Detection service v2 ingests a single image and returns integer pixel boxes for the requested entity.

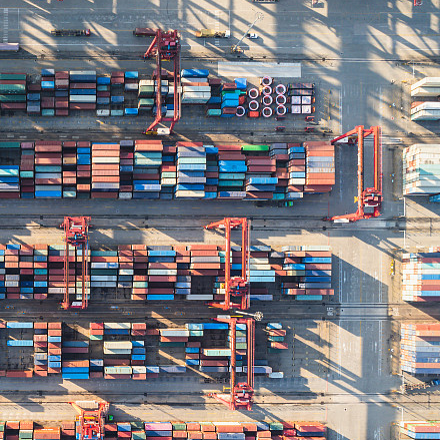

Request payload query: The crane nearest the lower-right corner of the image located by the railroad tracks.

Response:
[207,317,256,411]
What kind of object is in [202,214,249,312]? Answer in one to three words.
crane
